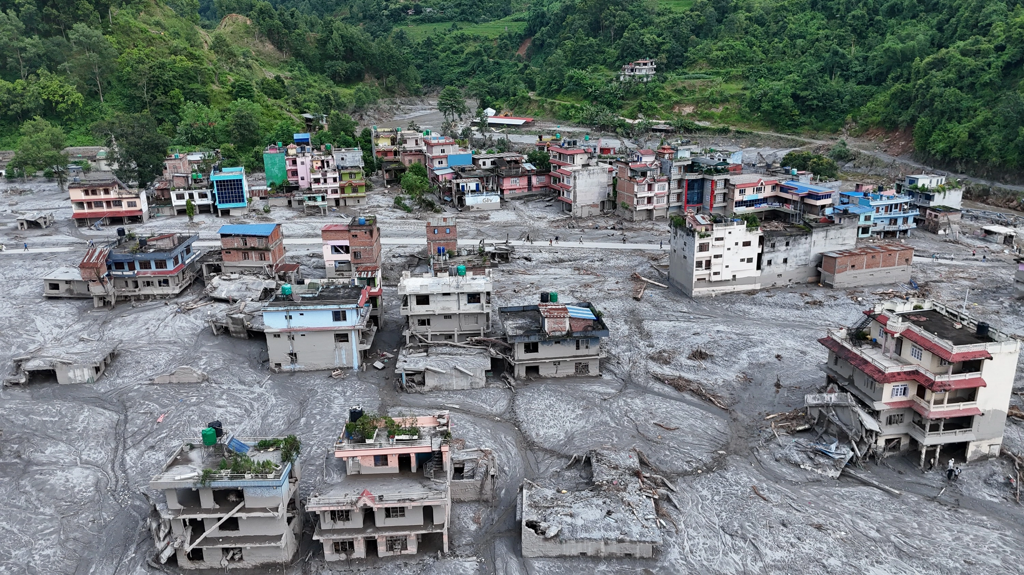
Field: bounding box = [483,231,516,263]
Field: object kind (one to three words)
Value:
building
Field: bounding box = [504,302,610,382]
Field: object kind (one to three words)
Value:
house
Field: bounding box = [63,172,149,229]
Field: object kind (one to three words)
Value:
house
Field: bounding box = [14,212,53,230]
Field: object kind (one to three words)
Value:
shed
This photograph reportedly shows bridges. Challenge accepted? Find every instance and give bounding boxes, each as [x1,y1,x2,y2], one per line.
[962,201,1024,225]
